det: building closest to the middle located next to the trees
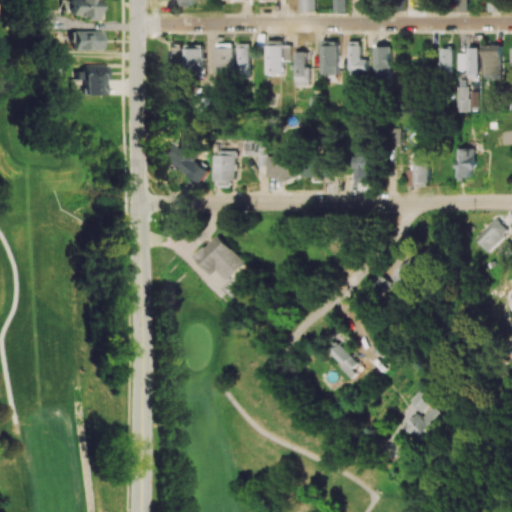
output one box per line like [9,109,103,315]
[190,237,243,282]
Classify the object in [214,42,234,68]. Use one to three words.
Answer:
house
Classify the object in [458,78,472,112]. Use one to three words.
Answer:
shed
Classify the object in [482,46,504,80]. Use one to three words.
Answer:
house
